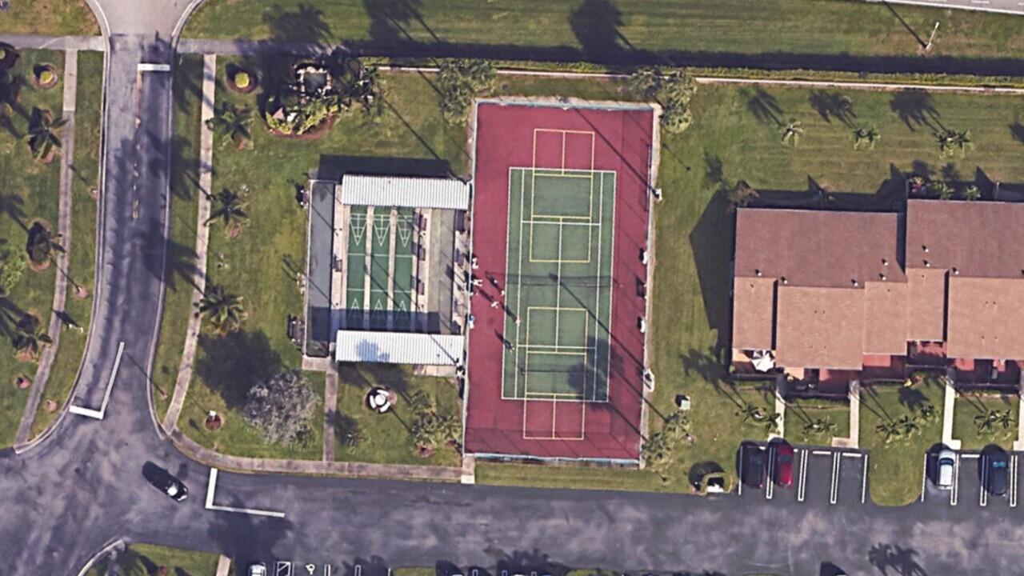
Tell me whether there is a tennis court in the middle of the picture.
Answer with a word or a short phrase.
Yes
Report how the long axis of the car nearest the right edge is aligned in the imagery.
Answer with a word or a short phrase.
up and down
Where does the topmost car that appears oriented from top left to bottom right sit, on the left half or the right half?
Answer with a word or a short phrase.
left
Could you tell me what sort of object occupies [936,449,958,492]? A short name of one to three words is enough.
car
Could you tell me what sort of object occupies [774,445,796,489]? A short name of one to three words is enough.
car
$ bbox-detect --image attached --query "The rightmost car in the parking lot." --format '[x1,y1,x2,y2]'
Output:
[984,449,1007,497]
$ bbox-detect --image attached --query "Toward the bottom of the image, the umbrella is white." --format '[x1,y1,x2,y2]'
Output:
[749,351,775,375]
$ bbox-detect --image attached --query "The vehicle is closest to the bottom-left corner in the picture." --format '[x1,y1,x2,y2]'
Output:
[143,462,187,501]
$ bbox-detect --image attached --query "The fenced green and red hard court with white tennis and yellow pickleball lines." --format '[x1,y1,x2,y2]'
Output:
[465,105,652,462]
